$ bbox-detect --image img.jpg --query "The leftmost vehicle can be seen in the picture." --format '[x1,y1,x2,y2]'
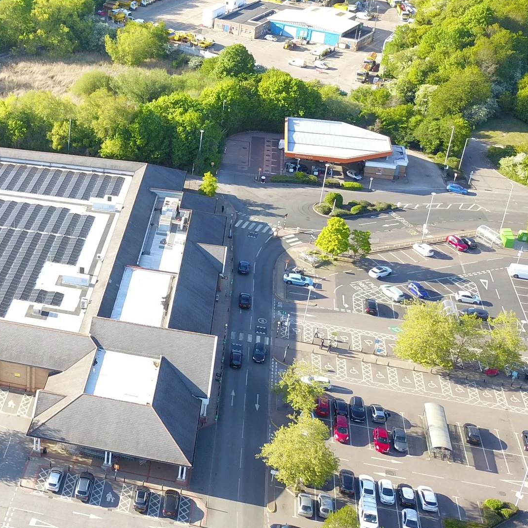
[44,466,65,494]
